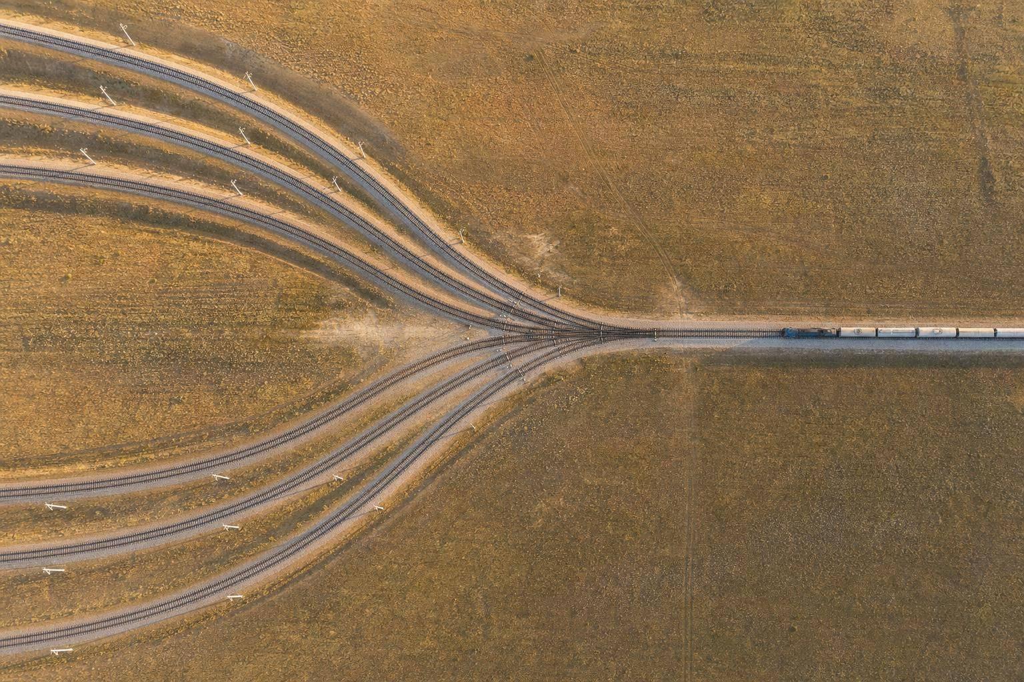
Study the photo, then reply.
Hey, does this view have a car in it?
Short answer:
No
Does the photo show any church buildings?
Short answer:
No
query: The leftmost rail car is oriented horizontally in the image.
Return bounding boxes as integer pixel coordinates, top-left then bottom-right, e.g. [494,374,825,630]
[779,325,836,338]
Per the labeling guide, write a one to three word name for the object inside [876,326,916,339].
rail car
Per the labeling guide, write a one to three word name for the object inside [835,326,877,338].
rail car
